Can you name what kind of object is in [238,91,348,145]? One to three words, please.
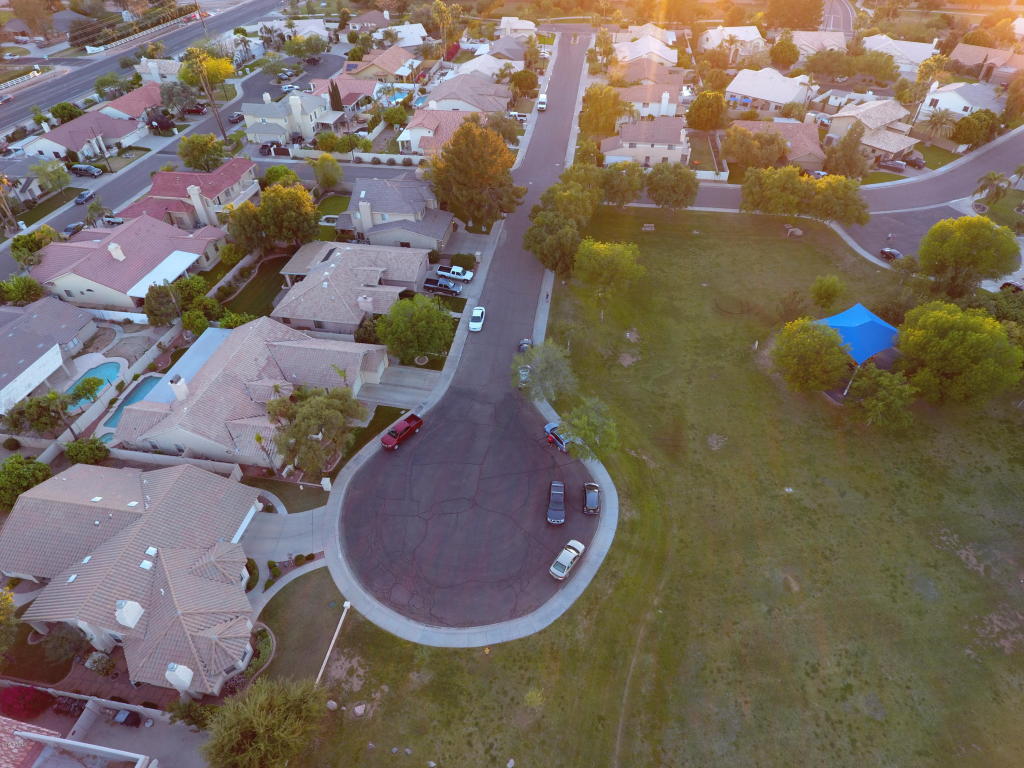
house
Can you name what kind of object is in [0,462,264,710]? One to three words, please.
house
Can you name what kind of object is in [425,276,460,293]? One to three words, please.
vehicle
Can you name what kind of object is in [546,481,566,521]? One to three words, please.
car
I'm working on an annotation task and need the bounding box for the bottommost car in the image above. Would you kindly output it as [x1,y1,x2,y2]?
[550,540,585,580]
